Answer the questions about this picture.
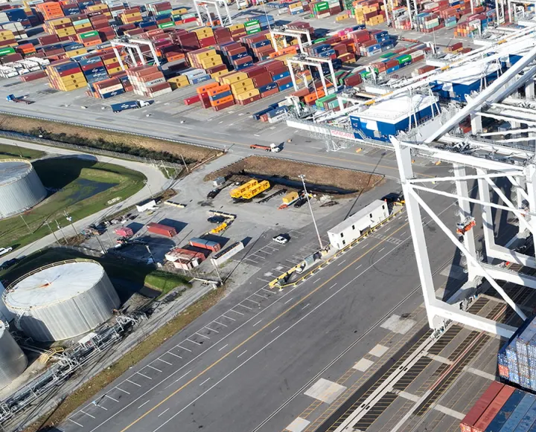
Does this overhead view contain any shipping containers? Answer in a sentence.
Yes, a shipping container is visible in the scene.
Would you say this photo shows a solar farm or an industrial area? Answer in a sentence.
What you see here is an industrial area.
